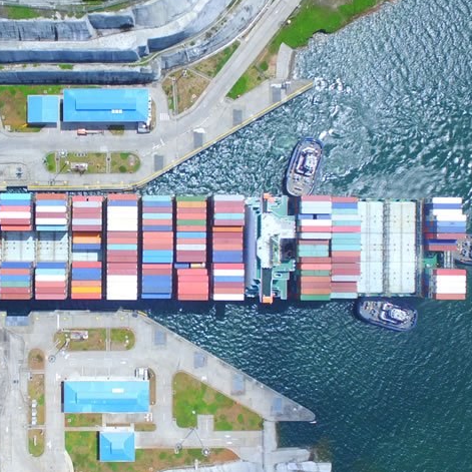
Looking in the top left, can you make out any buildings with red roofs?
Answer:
No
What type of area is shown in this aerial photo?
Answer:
port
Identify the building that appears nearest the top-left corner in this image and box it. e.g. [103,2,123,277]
[28,95,60,124]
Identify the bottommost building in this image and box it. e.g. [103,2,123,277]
[99,427,135,461]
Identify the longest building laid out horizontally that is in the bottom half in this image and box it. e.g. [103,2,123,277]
[64,375,150,412]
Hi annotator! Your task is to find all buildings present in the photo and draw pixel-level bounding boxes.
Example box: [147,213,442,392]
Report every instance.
[28,95,60,124]
[64,375,150,412]
[99,427,135,461]
[64,89,151,126]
